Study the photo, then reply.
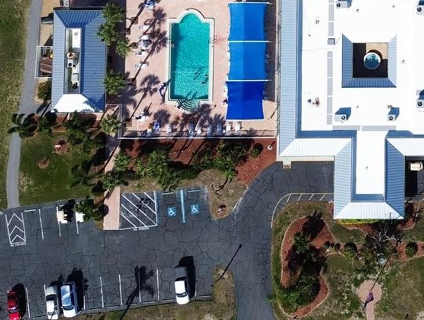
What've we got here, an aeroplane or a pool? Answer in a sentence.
The image shows a pool.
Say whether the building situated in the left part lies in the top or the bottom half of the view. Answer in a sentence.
The top half of the photo is where the building situated in the left part is.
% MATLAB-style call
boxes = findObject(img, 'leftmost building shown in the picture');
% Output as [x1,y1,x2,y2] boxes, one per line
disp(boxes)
[51,10,110,112]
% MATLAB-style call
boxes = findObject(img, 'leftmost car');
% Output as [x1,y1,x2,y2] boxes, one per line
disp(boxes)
[6,288,24,319]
